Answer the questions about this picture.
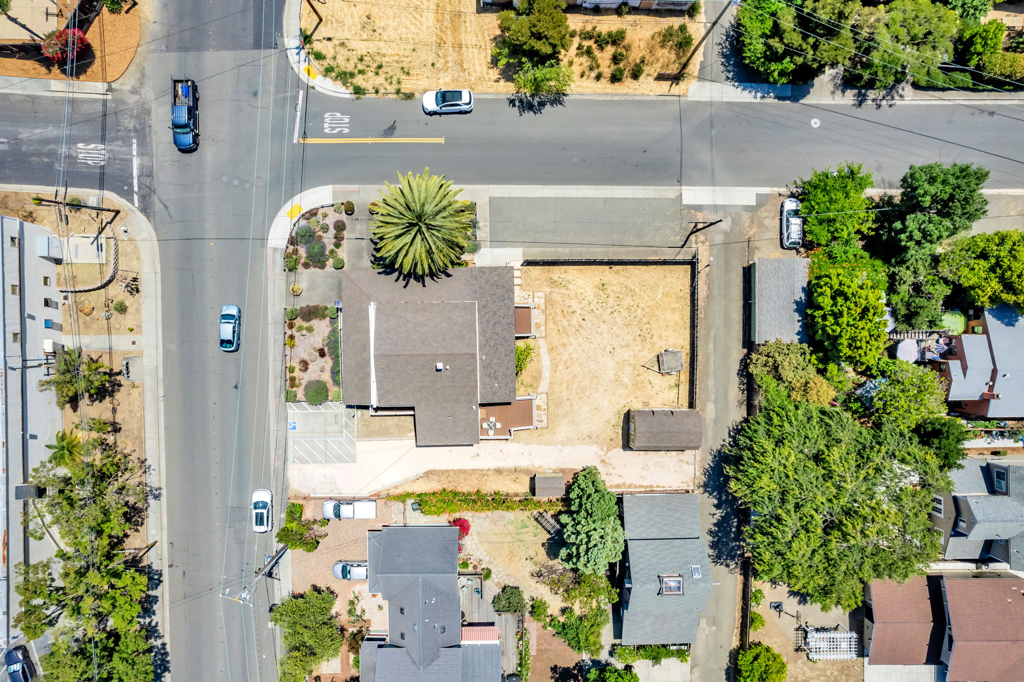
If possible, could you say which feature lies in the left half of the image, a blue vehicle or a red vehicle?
blue vehicle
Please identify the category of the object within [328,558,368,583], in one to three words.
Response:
car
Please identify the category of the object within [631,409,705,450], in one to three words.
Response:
shed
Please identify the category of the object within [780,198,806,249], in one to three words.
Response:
car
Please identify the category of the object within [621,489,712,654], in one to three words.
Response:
building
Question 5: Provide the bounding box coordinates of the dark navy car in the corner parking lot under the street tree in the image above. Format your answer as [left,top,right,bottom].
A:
[5,643,41,682]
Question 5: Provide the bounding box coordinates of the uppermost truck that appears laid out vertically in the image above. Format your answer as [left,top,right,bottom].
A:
[172,77,201,149]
